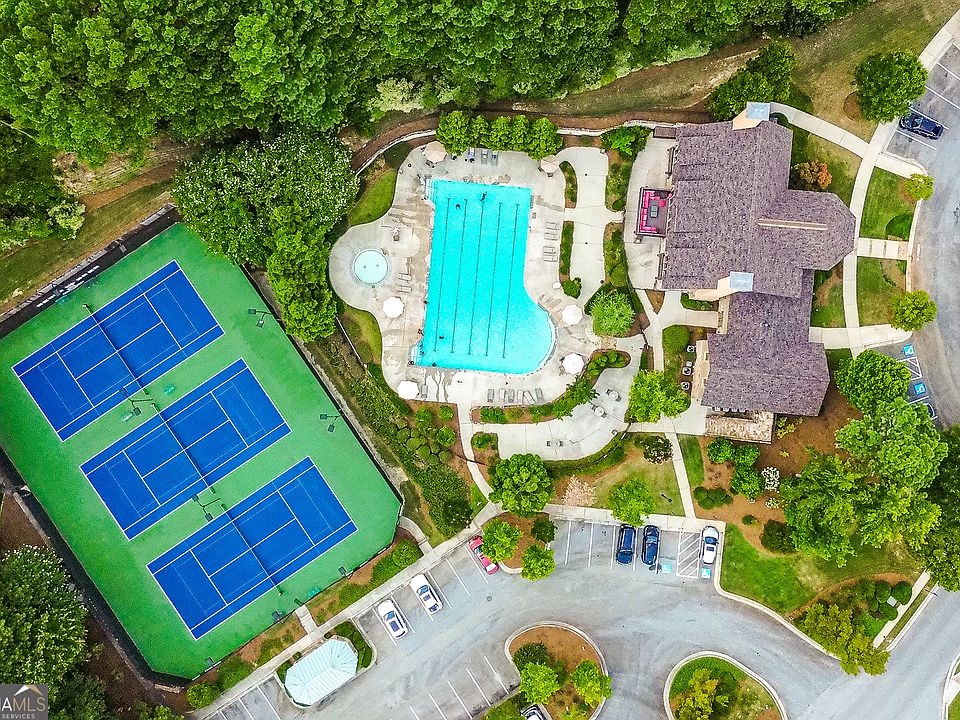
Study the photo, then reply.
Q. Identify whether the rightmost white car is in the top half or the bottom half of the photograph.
bottom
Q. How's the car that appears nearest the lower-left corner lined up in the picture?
diagonally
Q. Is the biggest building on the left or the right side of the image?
right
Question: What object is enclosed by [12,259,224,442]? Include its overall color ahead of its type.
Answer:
blue tennis court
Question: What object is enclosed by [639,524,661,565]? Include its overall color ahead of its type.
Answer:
blue car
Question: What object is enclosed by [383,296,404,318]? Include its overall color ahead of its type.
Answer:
white umbrella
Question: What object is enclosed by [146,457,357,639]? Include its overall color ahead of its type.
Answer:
blue tennis court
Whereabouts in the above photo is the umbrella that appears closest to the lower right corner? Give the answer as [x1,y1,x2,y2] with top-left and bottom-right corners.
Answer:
[562,353,583,373]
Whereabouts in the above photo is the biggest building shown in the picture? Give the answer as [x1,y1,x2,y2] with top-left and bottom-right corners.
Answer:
[651,102,857,417]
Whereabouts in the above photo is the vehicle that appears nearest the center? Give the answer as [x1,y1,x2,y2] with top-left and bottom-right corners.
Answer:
[466,533,502,577]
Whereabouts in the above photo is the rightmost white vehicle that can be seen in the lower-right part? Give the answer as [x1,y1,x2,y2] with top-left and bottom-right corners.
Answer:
[697,525,720,564]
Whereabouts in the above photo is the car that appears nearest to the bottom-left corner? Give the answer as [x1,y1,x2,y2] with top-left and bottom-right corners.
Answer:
[375,600,409,640]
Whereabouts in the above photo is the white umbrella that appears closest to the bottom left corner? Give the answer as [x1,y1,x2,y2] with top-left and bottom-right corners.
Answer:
[397,379,418,400]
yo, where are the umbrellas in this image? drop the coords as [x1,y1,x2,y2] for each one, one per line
[562,353,583,373]
[383,296,404,318]
[424,142,444,163]
[562,305,582,325]
[540,157,559,174]
[397,379,418,400]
